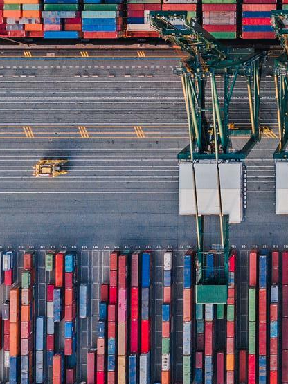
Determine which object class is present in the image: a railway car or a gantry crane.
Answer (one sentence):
It is a gantry crane that can be seen here.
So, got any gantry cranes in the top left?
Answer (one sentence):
No, there's no gantry crane to be seen in the top left.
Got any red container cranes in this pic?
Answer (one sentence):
No, there isn't any red container crane down there.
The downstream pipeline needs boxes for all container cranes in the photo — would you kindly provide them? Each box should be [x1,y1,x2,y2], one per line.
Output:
[265,10,288,212]
[149,10,275,306]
